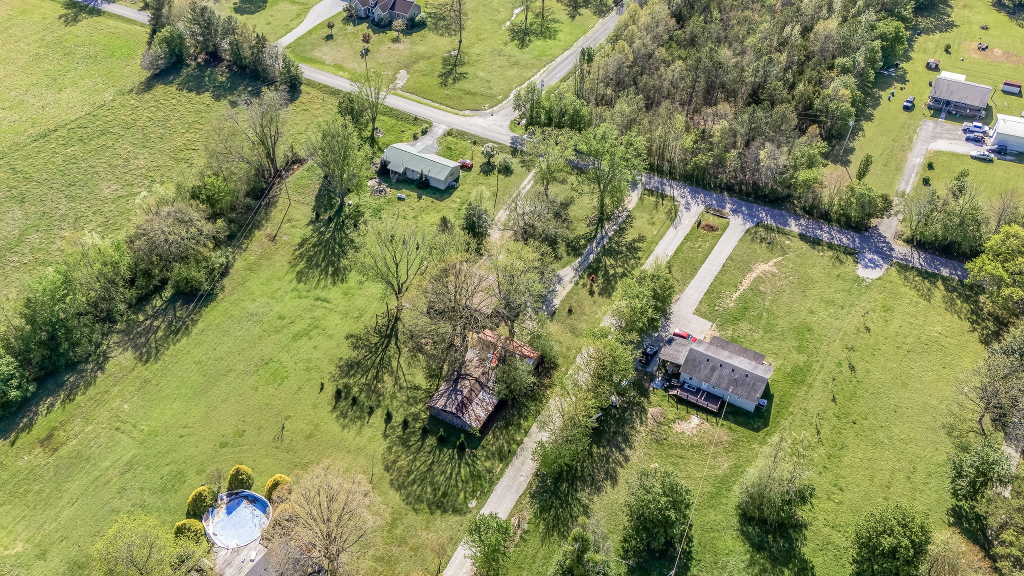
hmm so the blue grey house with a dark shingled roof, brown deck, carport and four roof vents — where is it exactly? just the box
[658,336,774,419]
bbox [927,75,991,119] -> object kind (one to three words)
house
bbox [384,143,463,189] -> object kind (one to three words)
house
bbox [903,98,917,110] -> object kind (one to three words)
vehicle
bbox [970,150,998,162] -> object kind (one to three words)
vehicle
